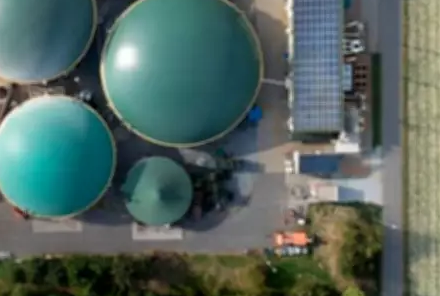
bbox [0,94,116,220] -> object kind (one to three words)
storage tank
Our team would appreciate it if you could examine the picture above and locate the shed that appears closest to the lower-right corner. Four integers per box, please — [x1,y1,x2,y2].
[315,184,338,201]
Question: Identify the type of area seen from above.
industrial area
